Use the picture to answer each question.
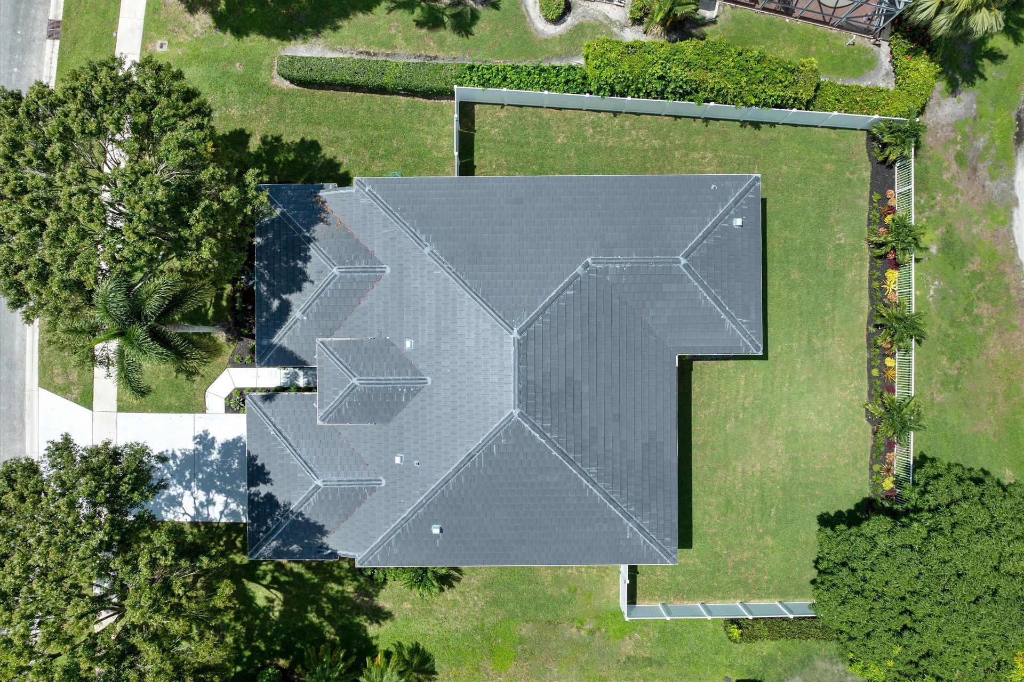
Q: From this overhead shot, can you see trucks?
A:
No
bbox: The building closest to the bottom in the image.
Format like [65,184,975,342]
[244,173,764,568]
